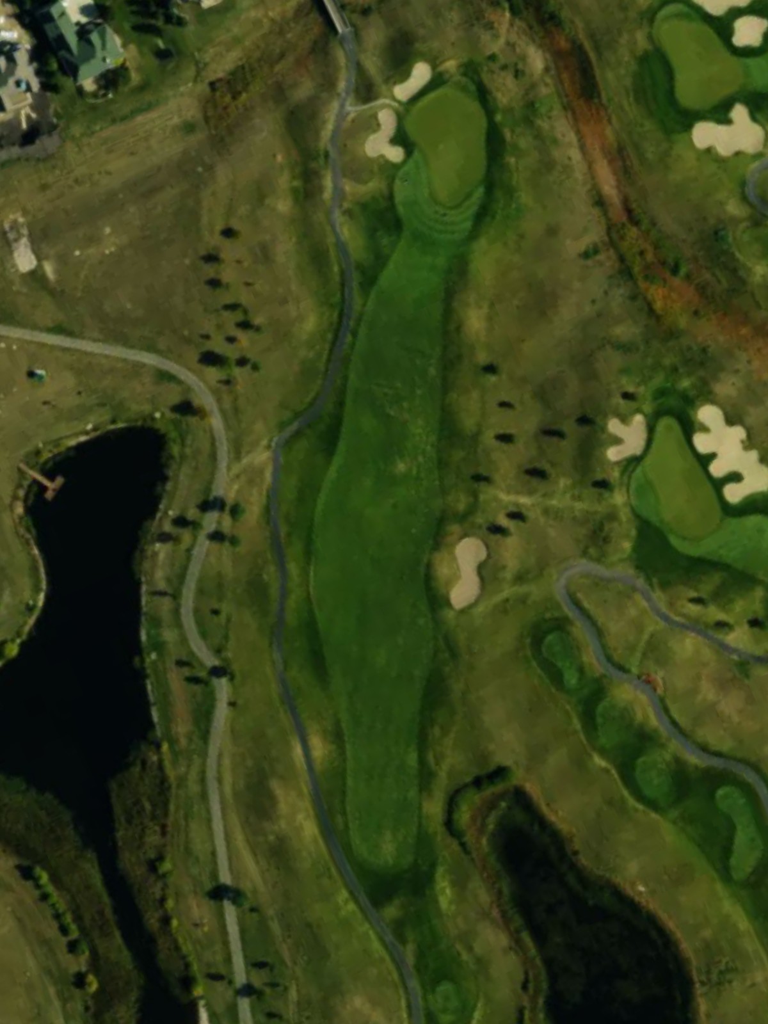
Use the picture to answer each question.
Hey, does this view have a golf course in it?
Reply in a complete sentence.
Yes, a golf course is visible in the scene.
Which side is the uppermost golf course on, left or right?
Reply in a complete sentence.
The uppermost golf course is on the right side of the image.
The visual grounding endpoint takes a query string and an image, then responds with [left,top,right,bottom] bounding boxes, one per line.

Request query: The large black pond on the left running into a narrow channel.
[0,425,200,1024]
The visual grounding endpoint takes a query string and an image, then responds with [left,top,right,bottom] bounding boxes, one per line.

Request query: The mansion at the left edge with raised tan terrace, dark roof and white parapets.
[0,43,48,121]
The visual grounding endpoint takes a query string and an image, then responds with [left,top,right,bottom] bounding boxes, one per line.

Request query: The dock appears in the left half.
[18,462,66,502]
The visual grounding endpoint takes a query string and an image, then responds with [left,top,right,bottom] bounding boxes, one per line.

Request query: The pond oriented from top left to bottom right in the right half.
[493,784,701,1024]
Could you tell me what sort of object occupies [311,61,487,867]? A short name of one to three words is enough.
golf course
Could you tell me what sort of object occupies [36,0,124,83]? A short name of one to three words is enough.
house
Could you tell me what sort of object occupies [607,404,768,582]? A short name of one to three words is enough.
golf course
